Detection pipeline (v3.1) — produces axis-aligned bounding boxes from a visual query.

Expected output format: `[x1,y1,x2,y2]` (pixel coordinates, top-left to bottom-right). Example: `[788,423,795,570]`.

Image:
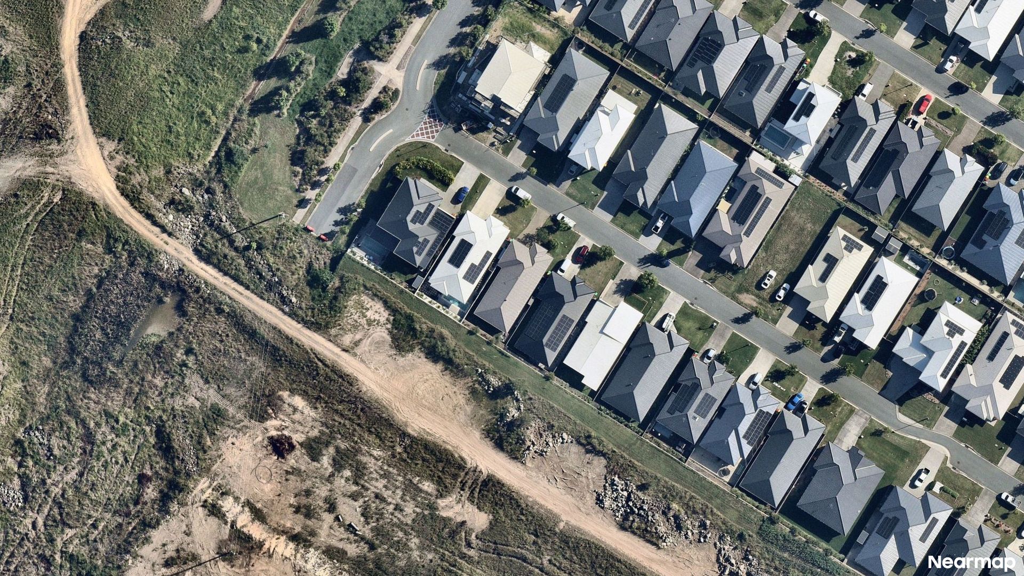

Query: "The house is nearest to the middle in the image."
[473,239,553,334]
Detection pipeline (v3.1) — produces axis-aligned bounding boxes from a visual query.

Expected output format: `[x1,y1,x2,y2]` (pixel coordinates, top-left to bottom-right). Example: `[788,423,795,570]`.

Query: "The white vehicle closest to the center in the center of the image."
[557,257,572,277]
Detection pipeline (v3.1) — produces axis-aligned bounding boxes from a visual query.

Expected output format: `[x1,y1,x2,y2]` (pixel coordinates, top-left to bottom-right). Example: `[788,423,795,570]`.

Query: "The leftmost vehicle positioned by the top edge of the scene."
[809,8,830,22]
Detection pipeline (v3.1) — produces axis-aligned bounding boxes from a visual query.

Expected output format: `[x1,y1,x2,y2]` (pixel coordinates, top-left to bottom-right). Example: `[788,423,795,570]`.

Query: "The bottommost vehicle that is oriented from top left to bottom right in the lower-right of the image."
[1001,491,1022,509]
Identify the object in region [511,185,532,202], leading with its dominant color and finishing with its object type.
white vehicle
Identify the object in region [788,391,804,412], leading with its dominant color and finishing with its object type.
blue vehicle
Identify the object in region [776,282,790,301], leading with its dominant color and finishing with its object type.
white car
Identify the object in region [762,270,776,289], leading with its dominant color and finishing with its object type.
white car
